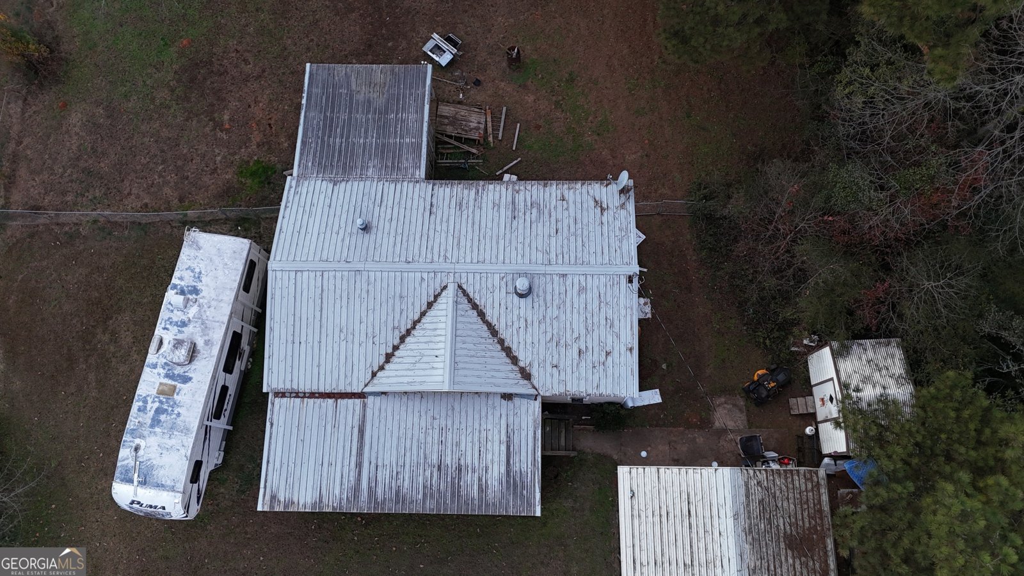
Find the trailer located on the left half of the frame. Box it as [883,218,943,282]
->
[114,228,269,521]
